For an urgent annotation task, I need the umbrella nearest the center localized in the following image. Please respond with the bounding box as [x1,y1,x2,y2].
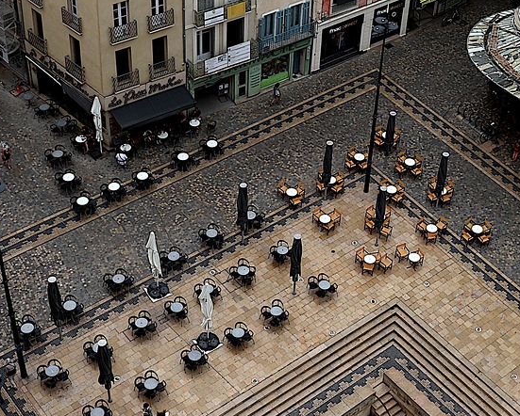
[237,184,250,245]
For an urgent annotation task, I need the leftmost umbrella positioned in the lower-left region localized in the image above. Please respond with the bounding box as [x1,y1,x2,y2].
[47,277,64,342]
